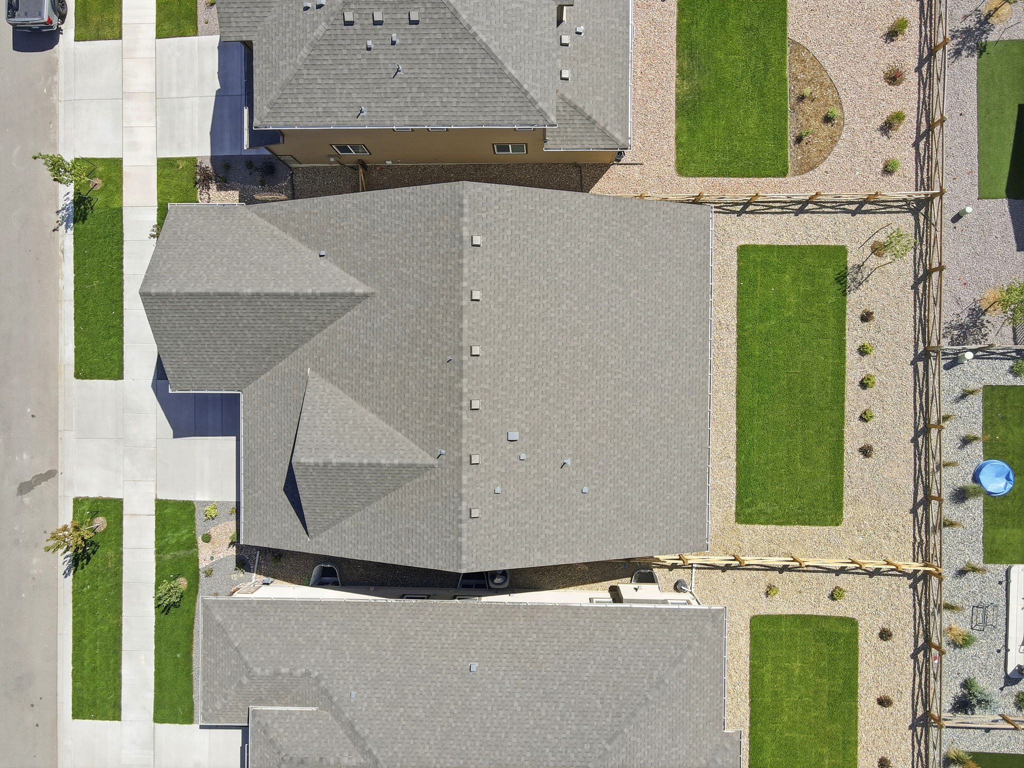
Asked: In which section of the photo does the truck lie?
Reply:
top left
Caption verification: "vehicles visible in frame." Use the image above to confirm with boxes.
[3,0,69,32]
